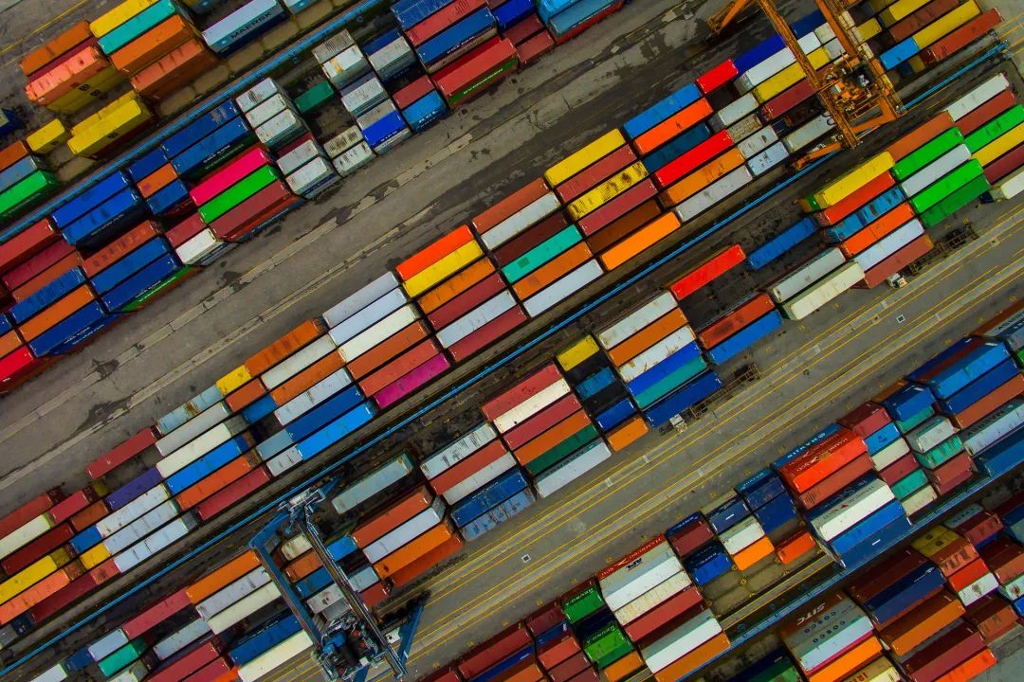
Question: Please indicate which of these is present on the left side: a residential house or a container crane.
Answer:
container crane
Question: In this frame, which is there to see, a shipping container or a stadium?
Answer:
shipping container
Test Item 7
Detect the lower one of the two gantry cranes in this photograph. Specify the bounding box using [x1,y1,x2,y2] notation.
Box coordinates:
[239,466,443,682]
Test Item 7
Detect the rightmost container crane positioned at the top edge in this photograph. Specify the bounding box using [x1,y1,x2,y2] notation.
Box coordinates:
[686,0,920,190]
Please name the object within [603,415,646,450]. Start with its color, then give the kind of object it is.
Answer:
orange shipping container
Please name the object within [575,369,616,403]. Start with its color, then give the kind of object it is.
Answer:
blue shipping container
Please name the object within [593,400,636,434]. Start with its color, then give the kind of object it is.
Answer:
blue shipping container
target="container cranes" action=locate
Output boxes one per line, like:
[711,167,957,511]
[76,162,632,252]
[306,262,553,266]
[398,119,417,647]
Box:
[239,466,443,682]
[686,0,920,190]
